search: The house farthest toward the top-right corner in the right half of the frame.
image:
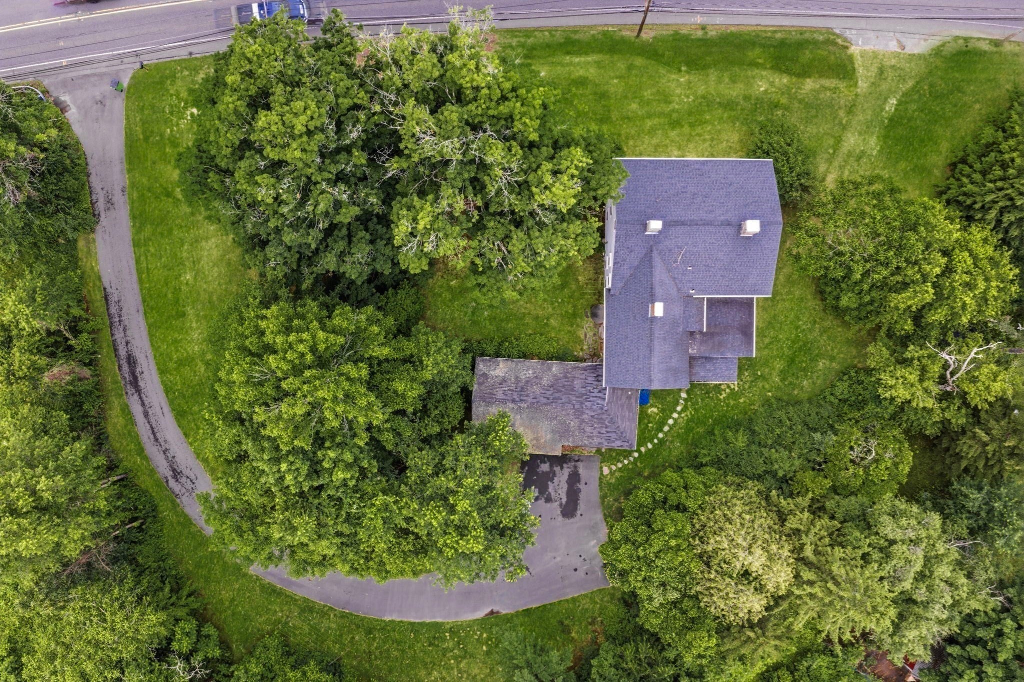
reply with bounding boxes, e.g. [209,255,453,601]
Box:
[600,158,783,389]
